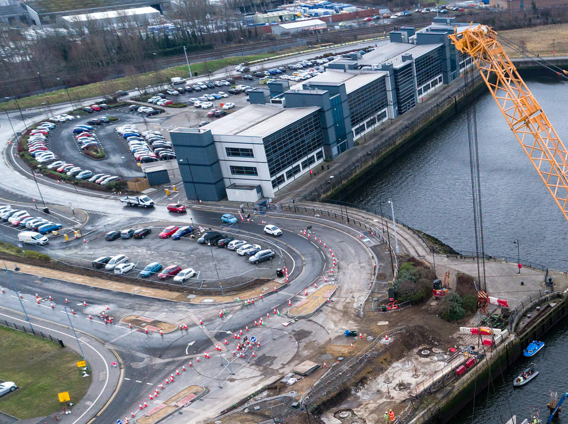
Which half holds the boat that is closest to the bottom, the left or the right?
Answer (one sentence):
You can find the boat that is closest to the bottom on the right side of the picture.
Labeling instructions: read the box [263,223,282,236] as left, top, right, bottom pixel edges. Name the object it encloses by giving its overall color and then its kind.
white vehicle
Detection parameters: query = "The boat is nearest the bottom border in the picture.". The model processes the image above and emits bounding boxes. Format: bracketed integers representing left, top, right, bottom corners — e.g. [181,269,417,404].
[512,361,540,384]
